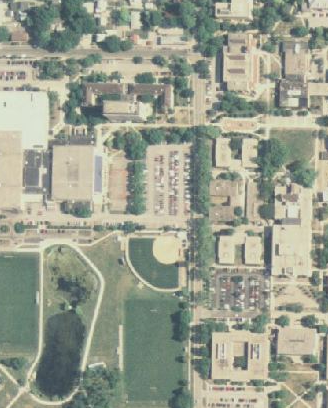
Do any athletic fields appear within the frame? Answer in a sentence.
Yes, the frame does contain an athletic field.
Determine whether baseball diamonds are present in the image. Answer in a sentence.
Yes, a baseball diamond appears in the view.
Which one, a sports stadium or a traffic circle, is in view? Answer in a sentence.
Of the two, only a sports stadium appears.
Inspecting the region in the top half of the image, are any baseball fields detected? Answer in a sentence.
No, I can find no baseball field in the top half of the image.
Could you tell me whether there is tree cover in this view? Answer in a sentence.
Yes, some tree cover is visible.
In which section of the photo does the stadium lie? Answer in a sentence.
The stadium is located in the left region of the scene.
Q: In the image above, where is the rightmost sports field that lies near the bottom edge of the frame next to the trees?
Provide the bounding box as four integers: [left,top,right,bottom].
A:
[124,296,184,402]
